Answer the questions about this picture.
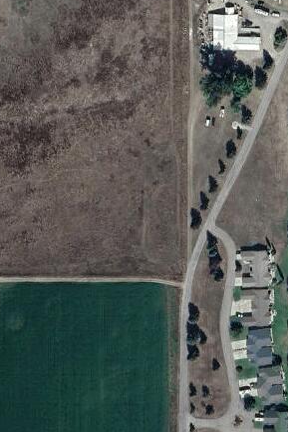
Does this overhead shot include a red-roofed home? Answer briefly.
No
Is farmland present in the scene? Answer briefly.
Yes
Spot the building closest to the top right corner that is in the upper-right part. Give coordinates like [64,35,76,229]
[209,5,261,50]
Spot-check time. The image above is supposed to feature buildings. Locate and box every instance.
[257,367,286,404]
[264,408,288,432]
[240,288,273,325]
[241,250,273,287]
[209,5,261,50]
[245,326,274,367]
